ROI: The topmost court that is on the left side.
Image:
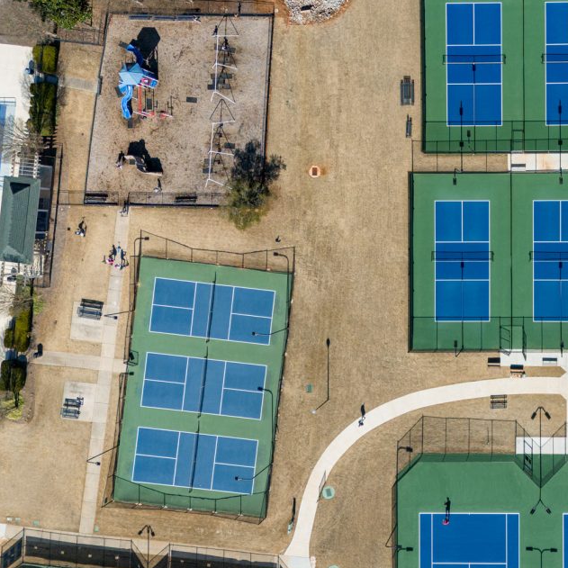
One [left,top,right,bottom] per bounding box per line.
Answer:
[133,257,291,355]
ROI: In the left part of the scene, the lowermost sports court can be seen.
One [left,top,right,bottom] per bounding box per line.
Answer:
[113,417,272,517]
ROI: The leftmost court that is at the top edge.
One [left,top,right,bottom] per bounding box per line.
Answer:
[424,0,523,152]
